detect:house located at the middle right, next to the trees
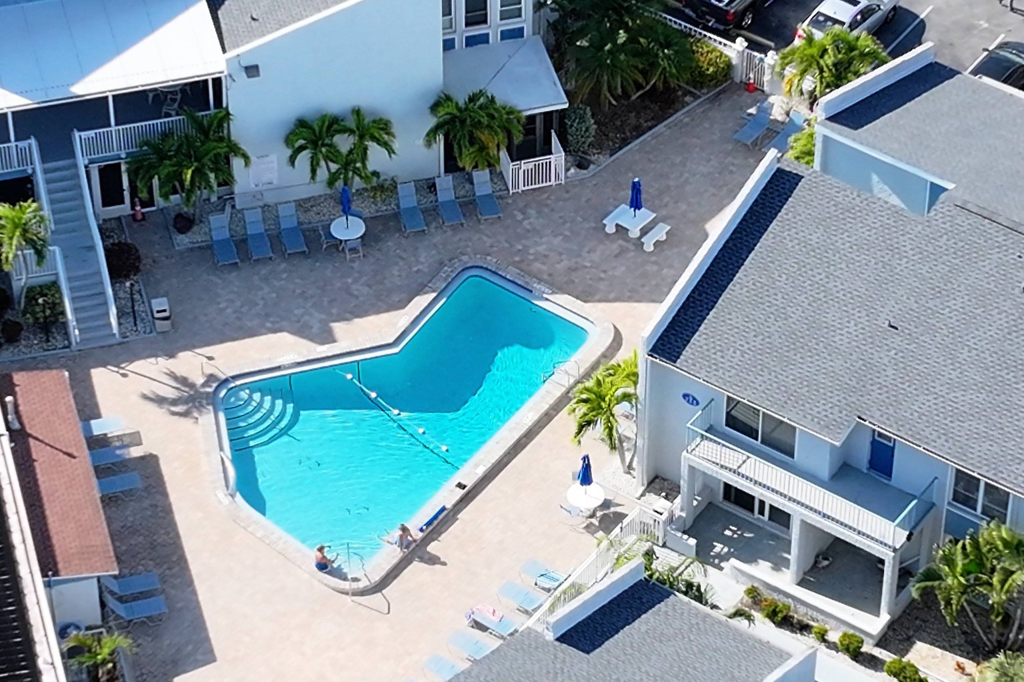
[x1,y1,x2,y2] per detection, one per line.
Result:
[634,42,1024,644]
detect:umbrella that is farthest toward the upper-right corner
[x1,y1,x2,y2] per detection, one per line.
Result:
[631,170,643,217]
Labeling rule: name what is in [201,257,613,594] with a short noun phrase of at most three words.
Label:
swimming pool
